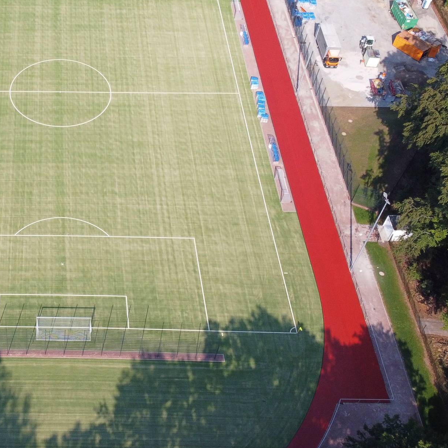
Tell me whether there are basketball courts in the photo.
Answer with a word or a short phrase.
No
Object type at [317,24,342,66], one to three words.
truck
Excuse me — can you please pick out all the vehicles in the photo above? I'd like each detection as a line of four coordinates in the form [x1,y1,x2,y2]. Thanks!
[359,38,374,54]
[317,24,342,66]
